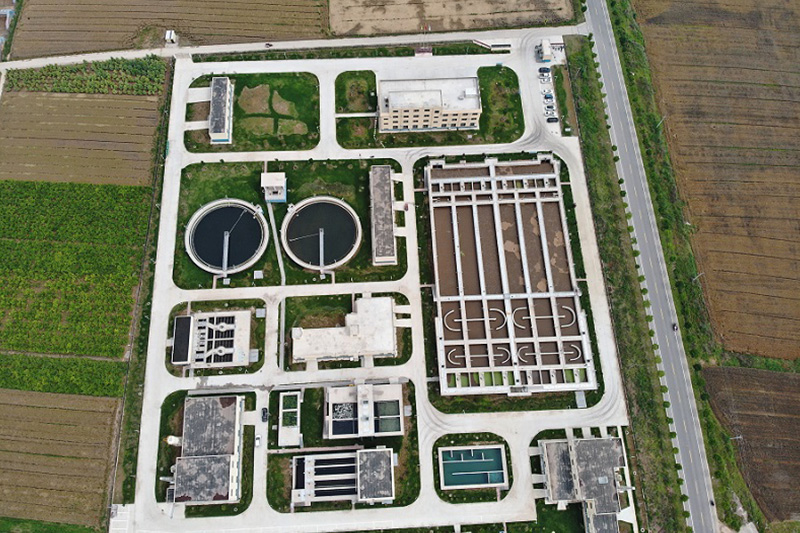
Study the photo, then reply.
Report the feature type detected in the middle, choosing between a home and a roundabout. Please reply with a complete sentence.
Visible in the middle is a home.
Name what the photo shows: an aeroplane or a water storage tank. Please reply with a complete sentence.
Of the two, only a water storage tank appears.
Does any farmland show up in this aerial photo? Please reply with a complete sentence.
Yes, the picture does contain farmland.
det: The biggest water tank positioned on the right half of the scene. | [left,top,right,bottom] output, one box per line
[423,153,598,399]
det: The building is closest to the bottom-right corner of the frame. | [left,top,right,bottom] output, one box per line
[536,437,625,533]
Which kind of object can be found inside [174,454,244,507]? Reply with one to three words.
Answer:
house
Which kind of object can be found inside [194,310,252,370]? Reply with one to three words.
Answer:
water tank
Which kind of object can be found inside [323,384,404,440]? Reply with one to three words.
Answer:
water tank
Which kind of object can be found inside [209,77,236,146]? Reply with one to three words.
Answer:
building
